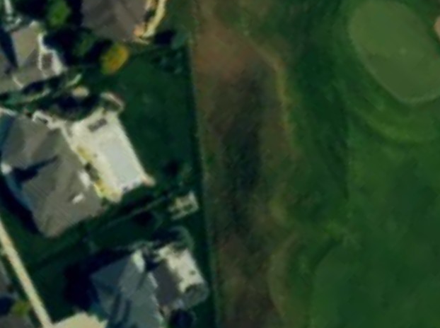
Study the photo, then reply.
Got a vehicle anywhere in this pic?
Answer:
No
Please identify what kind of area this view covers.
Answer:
golf course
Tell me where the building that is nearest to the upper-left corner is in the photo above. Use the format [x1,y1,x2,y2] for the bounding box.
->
[0,22,60,95]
